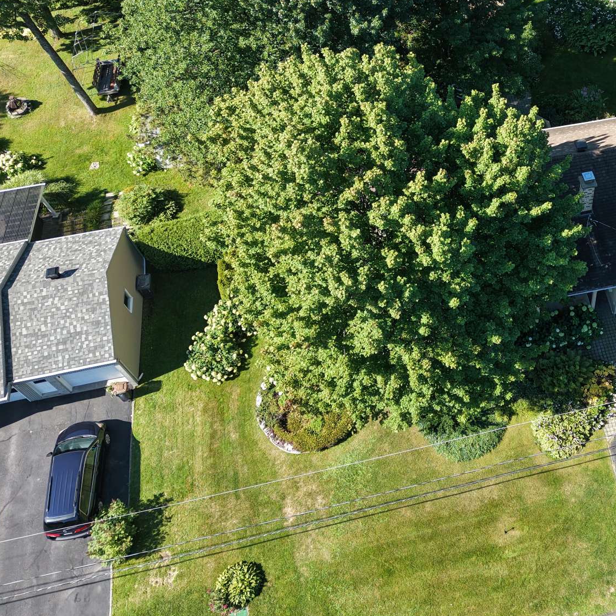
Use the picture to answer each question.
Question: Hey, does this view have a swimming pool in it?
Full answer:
No, the frame has no swimming pool in it.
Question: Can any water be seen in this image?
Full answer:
No, water can't be seen anywhere here.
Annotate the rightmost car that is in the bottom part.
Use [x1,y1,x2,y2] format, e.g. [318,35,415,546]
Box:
[33,420,108,547]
